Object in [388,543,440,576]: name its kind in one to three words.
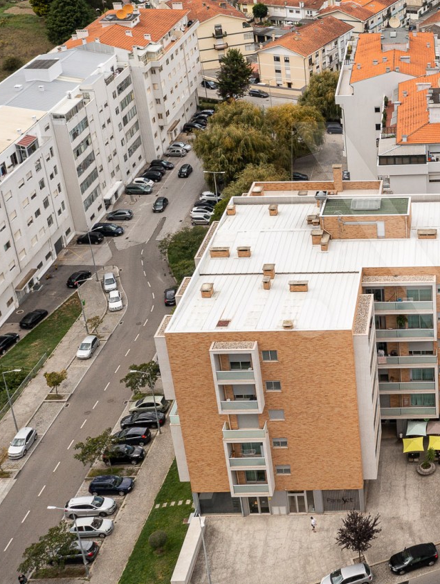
car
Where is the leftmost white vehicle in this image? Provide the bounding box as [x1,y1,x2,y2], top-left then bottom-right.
[8,428,38,461]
